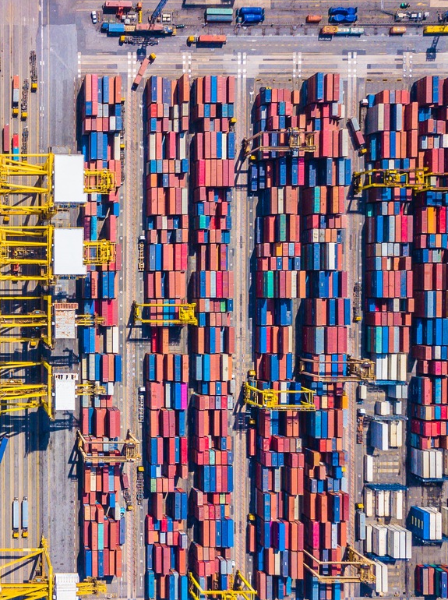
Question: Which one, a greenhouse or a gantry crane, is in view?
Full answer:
Looking from above, you can make out a gantry crane.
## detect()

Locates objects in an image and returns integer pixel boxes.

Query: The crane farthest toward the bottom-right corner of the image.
[301,543,374,581]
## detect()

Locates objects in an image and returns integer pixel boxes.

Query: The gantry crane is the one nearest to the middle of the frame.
[134,301,198,327]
